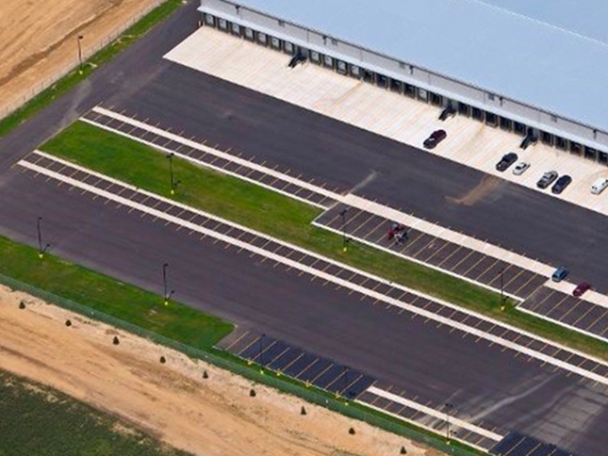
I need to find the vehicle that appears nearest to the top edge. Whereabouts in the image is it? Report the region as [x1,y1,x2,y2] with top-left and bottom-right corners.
[425,127,444,144]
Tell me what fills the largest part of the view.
paved ground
